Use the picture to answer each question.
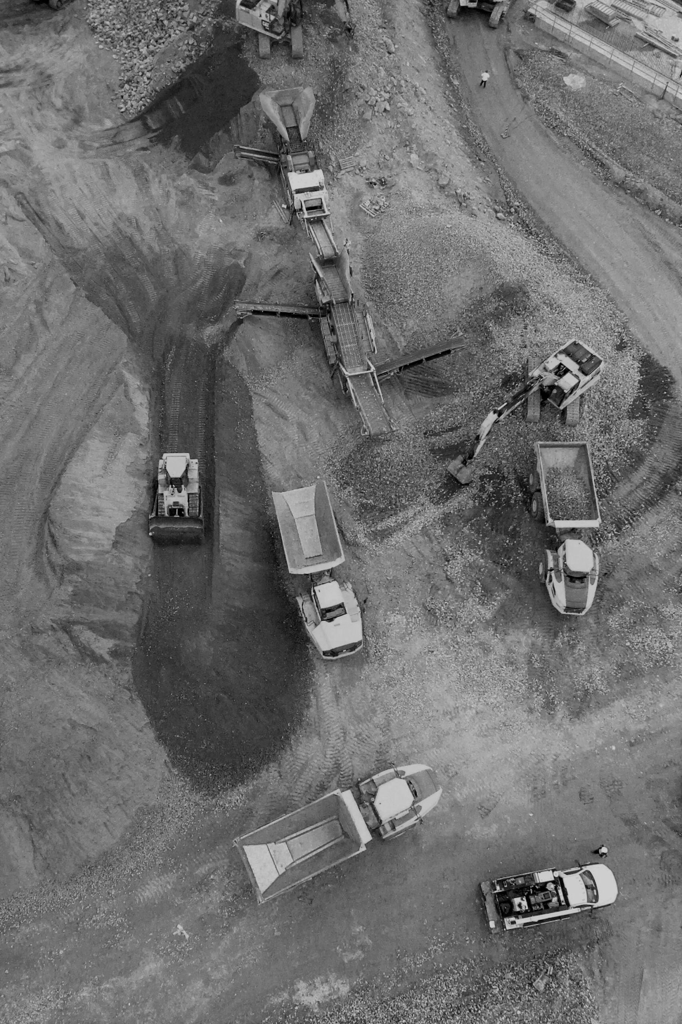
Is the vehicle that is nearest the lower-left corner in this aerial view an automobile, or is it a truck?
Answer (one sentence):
The vehicle that is nearest the lower-left corner appears to be a truck.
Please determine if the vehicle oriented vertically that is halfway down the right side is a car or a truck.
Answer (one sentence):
I'd say the vehicle oriented vertically that is halfway down the right side is a truck.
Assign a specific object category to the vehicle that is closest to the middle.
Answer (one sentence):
It turns out the vehicle that is closest to the middle is a truck.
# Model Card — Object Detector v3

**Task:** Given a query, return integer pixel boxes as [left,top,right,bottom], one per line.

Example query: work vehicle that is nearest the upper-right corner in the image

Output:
[452,0,514,25]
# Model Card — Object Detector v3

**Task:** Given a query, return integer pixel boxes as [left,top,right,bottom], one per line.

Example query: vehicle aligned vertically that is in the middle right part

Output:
[530,438,608,615]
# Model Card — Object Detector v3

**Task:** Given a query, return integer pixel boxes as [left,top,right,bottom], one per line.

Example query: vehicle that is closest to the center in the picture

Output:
[272,479,361,665]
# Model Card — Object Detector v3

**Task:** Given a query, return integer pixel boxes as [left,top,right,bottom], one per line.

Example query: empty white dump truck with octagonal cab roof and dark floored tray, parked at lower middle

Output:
[229,761,442,911]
